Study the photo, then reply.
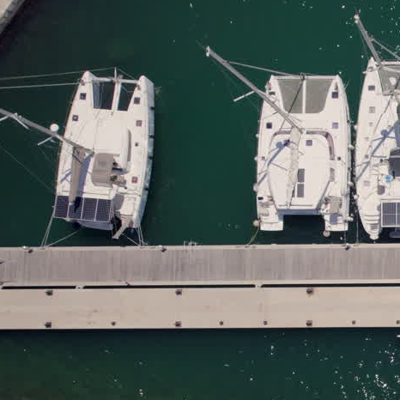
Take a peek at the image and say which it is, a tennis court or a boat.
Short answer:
boat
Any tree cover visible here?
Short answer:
No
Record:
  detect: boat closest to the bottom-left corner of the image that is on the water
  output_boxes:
[76,216,119,234]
